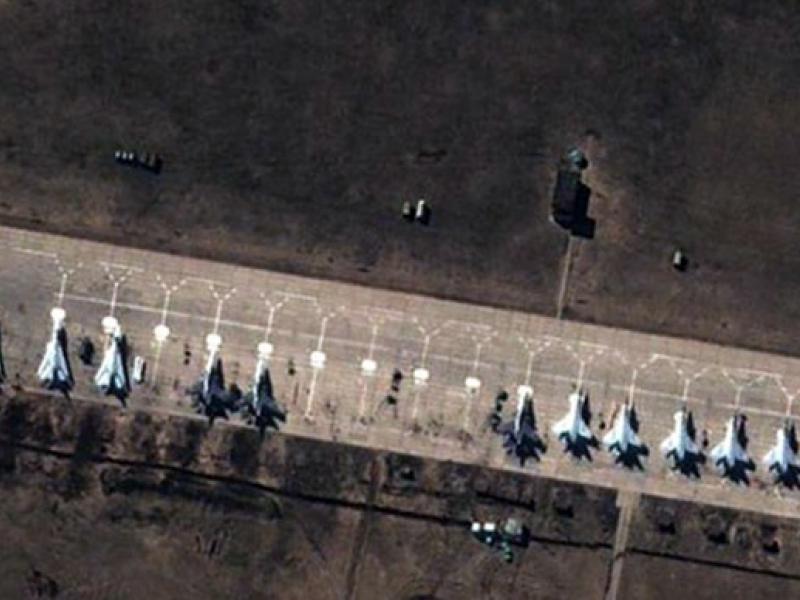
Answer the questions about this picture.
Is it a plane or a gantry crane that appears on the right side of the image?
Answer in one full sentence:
Looking on the right side of the image, you will find a plane.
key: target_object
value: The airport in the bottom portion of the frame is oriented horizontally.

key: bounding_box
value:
[0,228,800,516]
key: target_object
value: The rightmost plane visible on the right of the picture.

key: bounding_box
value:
[763,416,800,477]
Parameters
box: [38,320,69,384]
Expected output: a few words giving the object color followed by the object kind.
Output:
white airplane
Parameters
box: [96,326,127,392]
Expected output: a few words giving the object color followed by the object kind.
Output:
white airplane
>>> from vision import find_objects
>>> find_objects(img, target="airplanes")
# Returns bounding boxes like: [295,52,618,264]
[187,345,230,411]
[763,416,800,477]
[96,326,127,392]
[239,352,283,420]
[495,388,539,452]
[710,413,754,472]
[38,320,69,384]
[553,387,597,447]
[659,405,703,463]
[603,397,646,458]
